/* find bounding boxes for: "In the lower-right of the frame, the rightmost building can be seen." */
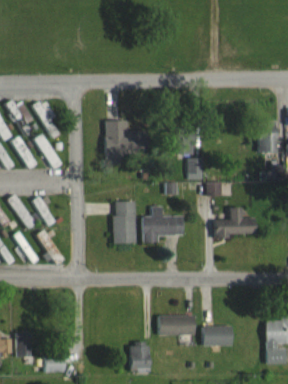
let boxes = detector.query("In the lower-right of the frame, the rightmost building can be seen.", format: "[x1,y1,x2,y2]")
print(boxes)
[266,320,288,364]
